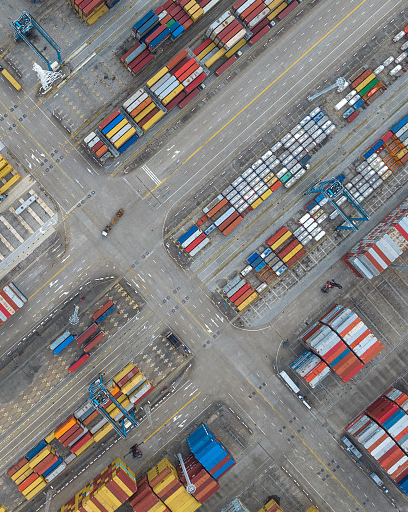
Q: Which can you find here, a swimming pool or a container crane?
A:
container crane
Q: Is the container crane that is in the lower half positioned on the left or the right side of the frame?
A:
left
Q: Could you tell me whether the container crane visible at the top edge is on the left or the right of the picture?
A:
left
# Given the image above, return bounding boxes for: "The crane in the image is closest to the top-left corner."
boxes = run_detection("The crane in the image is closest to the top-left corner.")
[9,7,66,75]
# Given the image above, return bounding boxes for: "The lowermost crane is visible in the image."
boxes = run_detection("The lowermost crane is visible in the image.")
[87,371,144,443]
